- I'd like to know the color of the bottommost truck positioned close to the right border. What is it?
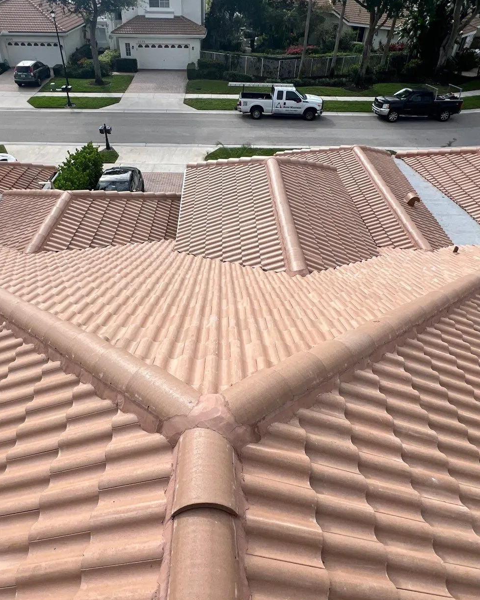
black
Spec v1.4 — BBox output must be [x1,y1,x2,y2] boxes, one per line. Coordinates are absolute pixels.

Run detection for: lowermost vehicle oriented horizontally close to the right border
[371,83,468,122]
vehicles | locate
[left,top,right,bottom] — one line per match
[371,83,468,122]
[9,58,46,86]
[100,163,144,192]
[236,78,330,121]
[0,154,40,163]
